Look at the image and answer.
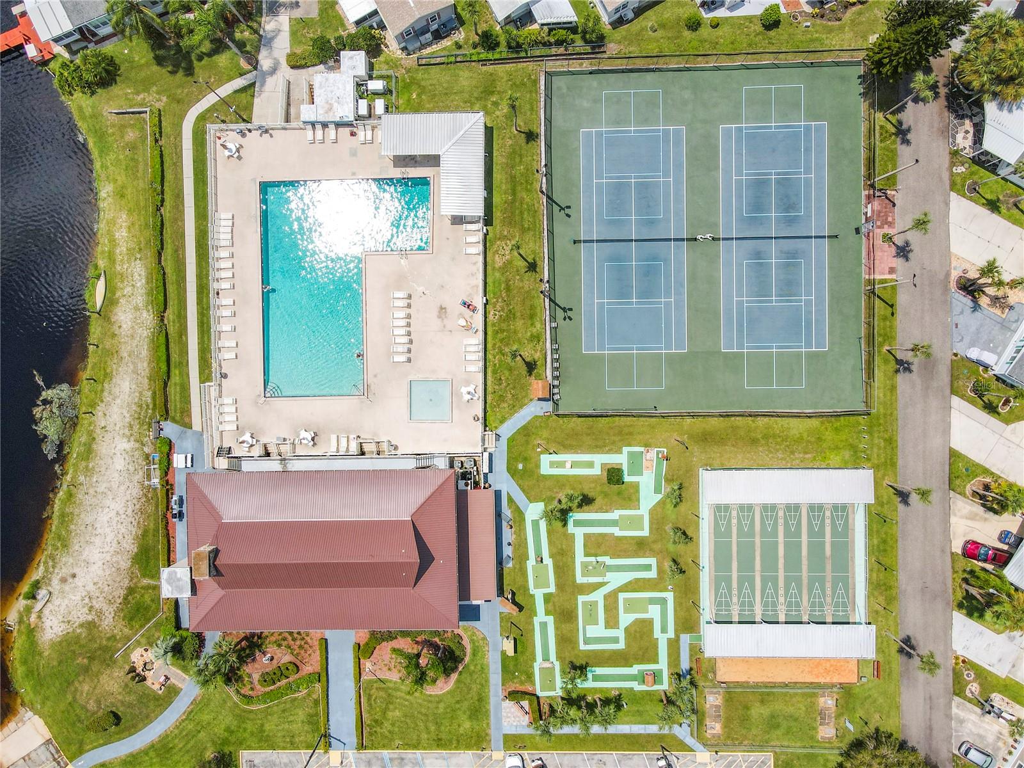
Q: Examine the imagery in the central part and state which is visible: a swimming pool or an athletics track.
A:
swimming pool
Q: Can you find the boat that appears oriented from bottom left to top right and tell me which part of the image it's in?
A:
bottom left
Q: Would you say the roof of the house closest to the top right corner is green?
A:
No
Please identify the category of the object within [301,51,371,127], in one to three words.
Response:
building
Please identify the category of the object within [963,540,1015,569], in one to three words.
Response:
truck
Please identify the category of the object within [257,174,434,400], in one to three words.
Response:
swimming pool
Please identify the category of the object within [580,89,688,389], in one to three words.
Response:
tennis court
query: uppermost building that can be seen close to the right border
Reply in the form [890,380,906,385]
[968,95,1024,195]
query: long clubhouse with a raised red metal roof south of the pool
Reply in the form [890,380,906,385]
[186,468,497,633]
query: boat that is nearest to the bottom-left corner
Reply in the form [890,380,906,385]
[31,588,51,613]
